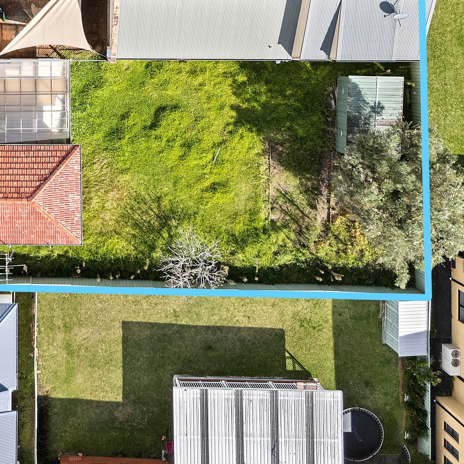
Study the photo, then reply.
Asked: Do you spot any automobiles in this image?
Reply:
No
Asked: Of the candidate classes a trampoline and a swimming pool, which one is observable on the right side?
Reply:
trampoline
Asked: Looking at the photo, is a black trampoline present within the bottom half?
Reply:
Yes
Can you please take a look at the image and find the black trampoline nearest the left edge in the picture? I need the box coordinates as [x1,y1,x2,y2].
[344,408,384,455]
